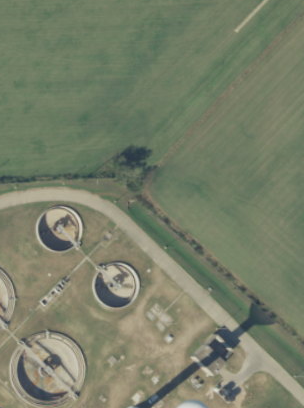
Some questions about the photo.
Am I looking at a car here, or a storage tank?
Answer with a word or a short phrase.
storage tank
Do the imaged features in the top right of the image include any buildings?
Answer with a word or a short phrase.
No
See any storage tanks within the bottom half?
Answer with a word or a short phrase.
Yes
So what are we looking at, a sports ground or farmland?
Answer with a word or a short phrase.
farmland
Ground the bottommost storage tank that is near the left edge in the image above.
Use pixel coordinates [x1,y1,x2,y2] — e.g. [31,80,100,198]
[10,332,86,408]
